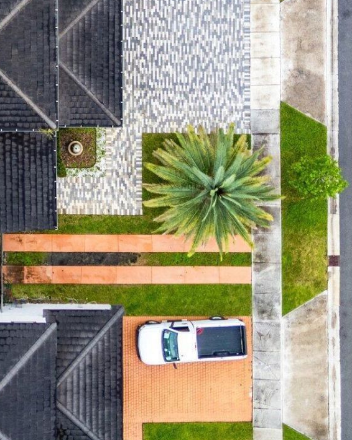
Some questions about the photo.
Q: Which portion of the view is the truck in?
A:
bottom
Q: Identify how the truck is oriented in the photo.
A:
horizontally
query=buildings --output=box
[0,299,125,440]
[0,0,125,235]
